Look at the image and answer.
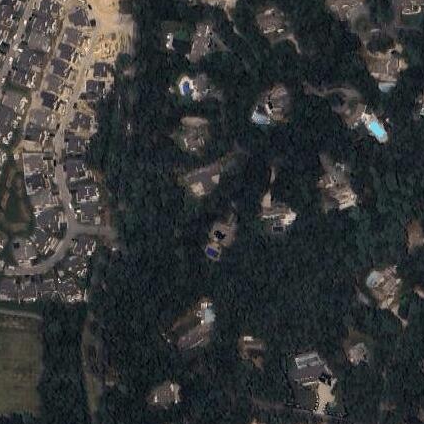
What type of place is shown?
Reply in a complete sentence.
It's a residential area.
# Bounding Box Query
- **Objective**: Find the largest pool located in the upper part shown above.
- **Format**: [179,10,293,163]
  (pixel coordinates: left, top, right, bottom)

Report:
[363,112,388,143]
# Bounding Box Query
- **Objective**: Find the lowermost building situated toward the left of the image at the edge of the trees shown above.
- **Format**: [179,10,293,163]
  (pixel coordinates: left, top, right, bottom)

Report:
[149,384,179,405]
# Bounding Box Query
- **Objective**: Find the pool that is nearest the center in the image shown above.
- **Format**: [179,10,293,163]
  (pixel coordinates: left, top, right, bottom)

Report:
[203,244,221,260]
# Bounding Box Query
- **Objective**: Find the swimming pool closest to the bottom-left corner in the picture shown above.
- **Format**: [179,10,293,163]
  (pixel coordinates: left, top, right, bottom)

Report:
[203,308,216,324]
